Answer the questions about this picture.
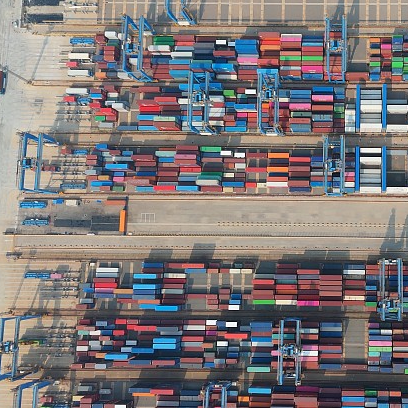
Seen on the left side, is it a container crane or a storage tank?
container crane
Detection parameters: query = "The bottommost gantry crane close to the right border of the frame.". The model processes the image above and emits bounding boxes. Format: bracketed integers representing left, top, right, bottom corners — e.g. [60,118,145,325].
[373,258,405,322]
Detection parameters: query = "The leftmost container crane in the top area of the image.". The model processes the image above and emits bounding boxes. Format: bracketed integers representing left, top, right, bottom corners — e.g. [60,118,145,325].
[16,130,69,195]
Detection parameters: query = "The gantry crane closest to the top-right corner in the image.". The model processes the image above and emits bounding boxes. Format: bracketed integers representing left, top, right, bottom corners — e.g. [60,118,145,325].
[321,11,353,82]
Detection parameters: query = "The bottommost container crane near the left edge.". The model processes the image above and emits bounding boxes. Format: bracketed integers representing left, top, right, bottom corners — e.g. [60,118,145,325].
[14,378,66,408]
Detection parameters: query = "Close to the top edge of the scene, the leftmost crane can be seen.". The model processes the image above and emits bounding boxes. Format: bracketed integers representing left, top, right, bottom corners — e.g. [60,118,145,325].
[119,10,160,81]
